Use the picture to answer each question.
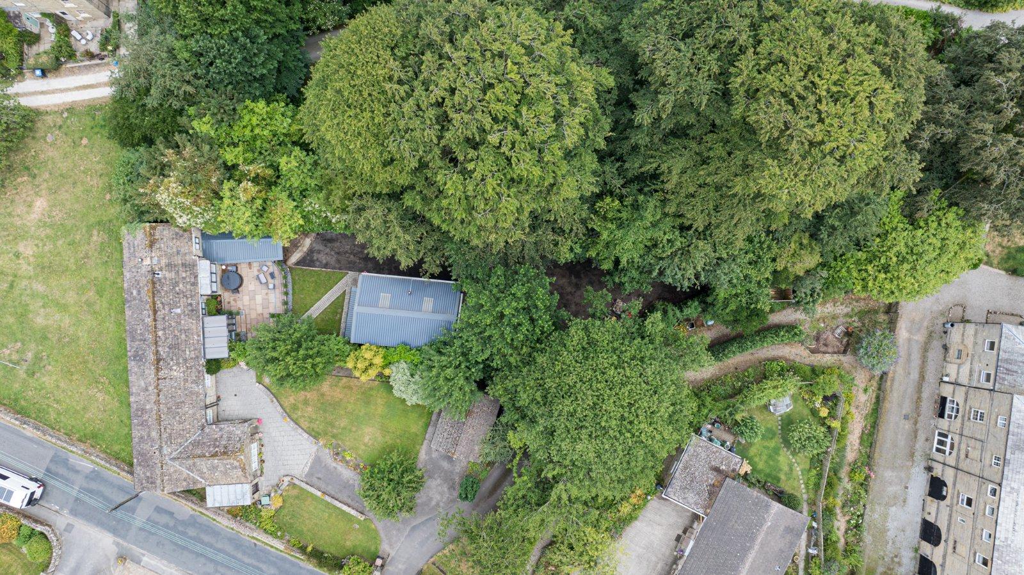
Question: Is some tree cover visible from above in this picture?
Yes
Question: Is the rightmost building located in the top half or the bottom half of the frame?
bottom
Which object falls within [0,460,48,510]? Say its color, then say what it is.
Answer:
white van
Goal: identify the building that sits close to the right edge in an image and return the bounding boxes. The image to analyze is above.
[918,324,1024,575]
